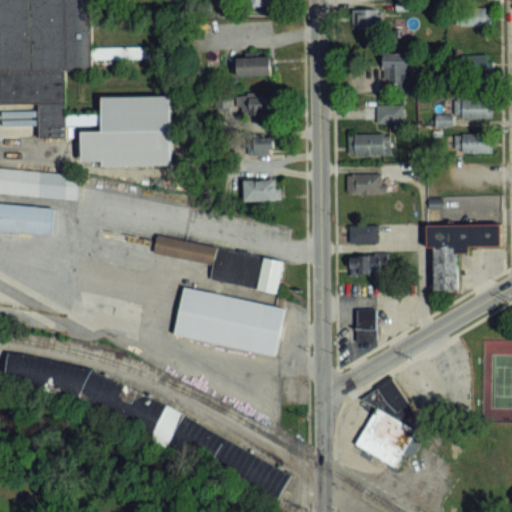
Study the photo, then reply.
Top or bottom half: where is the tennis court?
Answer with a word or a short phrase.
bottom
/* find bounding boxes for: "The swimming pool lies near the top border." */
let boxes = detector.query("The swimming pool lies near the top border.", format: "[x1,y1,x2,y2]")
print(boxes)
[407,16,422,30]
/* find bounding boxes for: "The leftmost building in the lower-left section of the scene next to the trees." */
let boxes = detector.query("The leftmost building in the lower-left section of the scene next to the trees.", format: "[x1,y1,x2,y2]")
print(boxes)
[2,351,94,396]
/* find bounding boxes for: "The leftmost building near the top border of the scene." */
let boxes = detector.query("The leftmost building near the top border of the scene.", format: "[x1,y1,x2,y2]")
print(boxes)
[0,0,92,138]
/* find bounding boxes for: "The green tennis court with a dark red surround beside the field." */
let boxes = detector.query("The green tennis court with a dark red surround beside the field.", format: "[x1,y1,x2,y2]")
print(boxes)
[484,341,512,422]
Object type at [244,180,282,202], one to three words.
house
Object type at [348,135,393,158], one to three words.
house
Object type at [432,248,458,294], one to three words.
building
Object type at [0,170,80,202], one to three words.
shed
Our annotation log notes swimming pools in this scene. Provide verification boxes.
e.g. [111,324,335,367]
[407,16,422,30]
[434,104,446,114]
